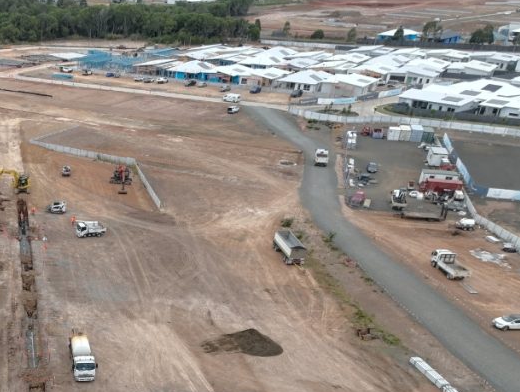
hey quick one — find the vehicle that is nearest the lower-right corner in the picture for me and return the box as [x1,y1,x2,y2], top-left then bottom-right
[495,315,520,330]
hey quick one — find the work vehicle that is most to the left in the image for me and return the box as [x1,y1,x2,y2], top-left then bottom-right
[0,166,37,194]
